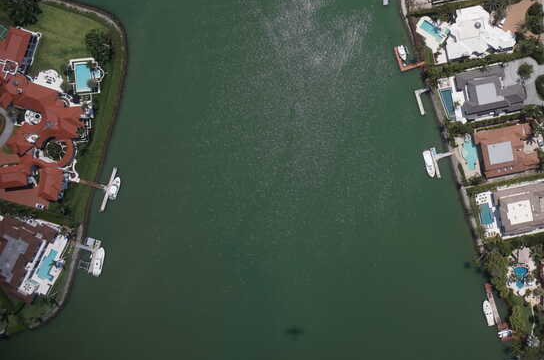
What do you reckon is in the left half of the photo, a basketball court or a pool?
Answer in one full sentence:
You can see a pool in the left half of the photo.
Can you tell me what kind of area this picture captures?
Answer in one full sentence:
It's a residential area.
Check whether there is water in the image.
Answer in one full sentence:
Yes, there is water in the image.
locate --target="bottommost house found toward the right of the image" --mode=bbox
[494,182,544,236]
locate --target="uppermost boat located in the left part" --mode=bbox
[107,177,120,202]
